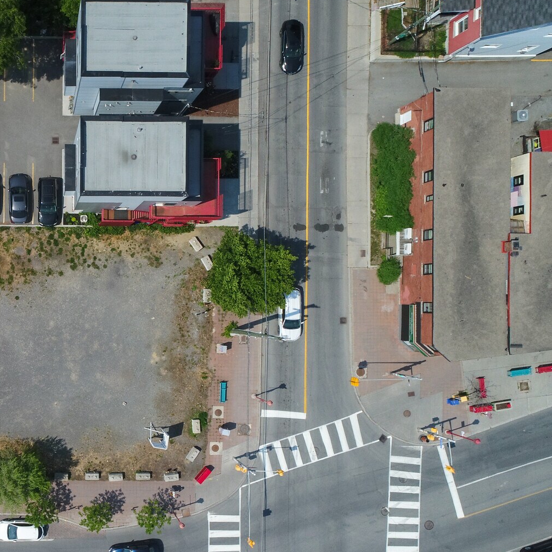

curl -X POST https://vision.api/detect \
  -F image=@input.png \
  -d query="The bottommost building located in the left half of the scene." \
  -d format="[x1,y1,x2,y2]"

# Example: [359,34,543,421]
[63,115,223,230]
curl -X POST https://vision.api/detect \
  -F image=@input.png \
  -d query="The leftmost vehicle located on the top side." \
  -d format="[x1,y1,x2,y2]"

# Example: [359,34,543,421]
[7,173,32,224]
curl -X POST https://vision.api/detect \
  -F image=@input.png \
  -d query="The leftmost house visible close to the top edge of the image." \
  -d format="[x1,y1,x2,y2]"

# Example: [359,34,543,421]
[63,0,224,115]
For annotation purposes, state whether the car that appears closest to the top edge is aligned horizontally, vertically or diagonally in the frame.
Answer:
vertically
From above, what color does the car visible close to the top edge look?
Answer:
black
